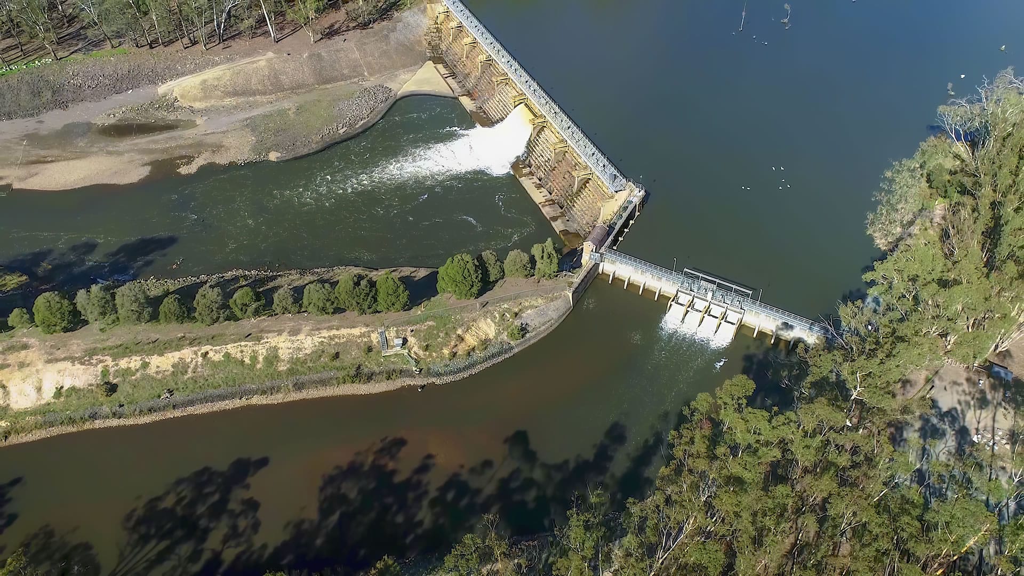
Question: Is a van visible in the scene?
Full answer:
No, there isn't any van down there.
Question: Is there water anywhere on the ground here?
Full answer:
Yes, the picture does contain water.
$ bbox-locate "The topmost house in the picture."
[583,221,609,265]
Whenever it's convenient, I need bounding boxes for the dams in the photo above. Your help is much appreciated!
[436,0,634,242]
